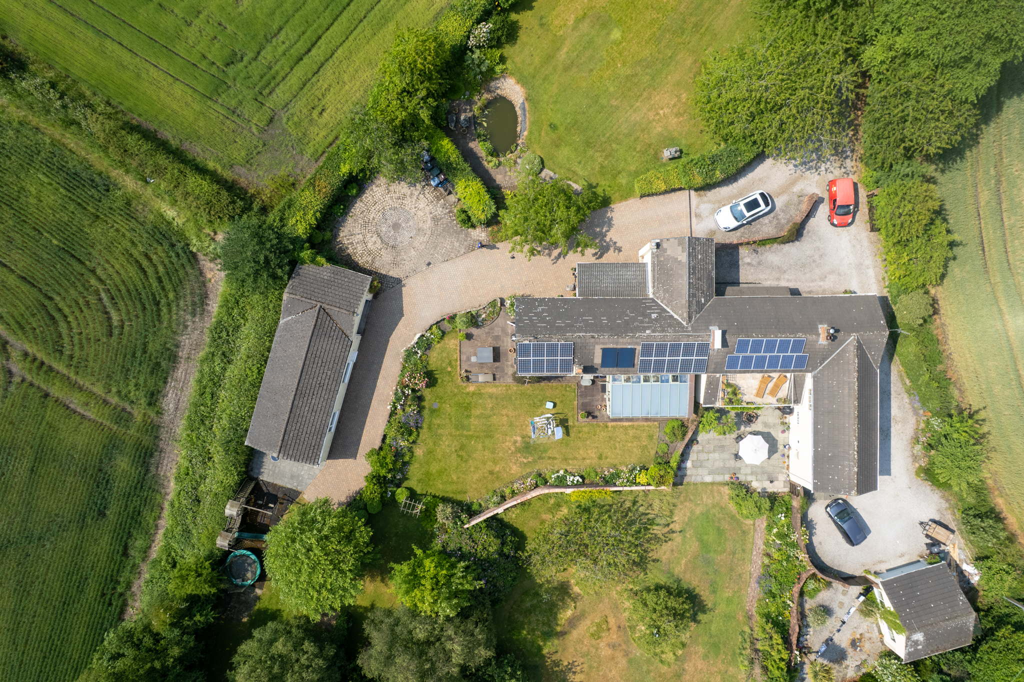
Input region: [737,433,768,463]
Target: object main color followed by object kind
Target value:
white umbrella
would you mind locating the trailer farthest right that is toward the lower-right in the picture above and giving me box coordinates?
[913,516,960,550]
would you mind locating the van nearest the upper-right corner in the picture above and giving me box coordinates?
[825,175,858,231]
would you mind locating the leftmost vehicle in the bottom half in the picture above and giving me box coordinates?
[822,494,870,548]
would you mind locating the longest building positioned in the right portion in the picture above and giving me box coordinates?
[503,235,927,496]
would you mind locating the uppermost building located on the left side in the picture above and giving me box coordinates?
[245,263,375,466]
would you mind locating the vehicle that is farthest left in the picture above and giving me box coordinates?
[713,189,773,234]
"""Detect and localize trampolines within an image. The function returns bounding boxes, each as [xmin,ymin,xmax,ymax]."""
[220,549,262,595]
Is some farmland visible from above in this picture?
Yes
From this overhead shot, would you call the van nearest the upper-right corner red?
Yes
